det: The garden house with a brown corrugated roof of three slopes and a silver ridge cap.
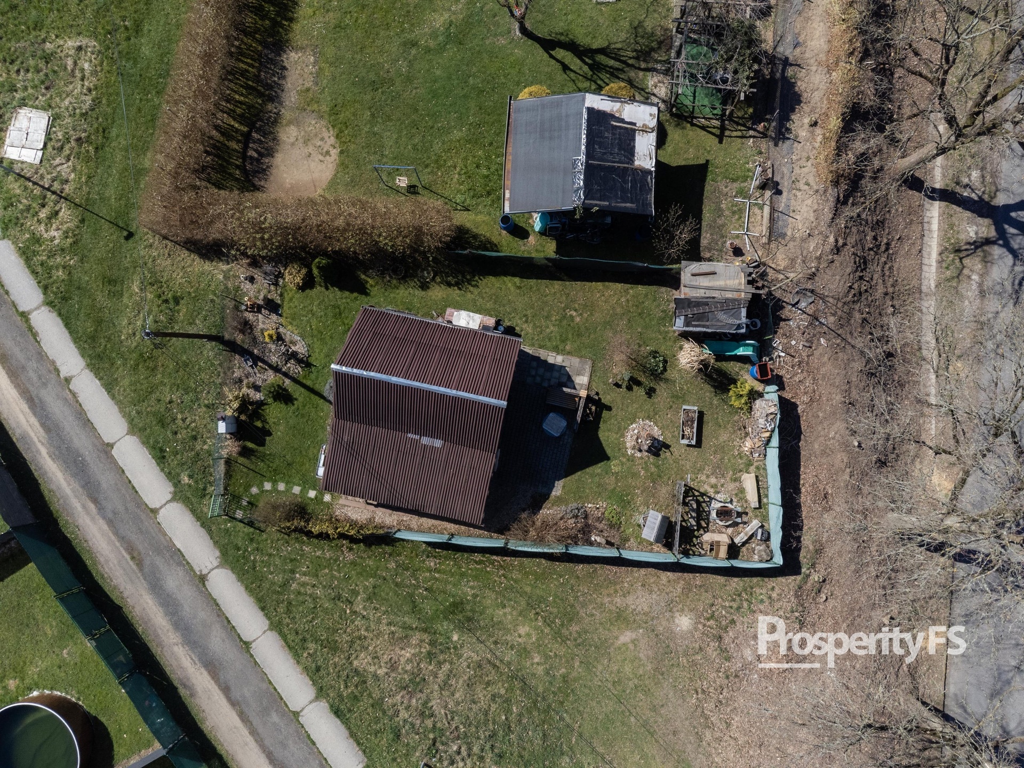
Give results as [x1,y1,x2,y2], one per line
[322,301,525,526]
